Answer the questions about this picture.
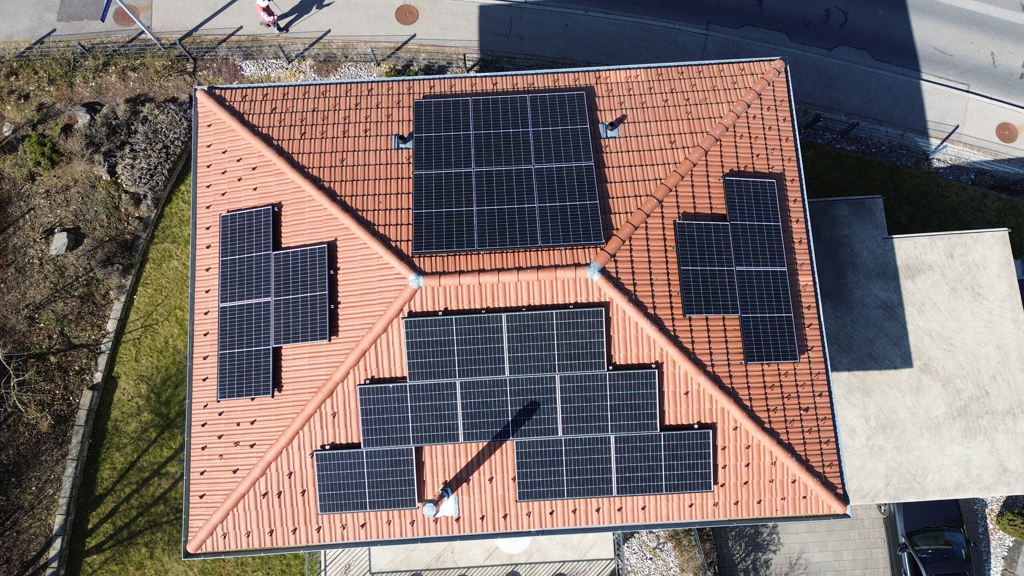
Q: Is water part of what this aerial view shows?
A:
No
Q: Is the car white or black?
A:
black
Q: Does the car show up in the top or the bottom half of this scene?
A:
bottom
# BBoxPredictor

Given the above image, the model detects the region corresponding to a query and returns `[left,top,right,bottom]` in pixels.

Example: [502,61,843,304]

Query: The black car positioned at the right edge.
[872,498,982,576]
